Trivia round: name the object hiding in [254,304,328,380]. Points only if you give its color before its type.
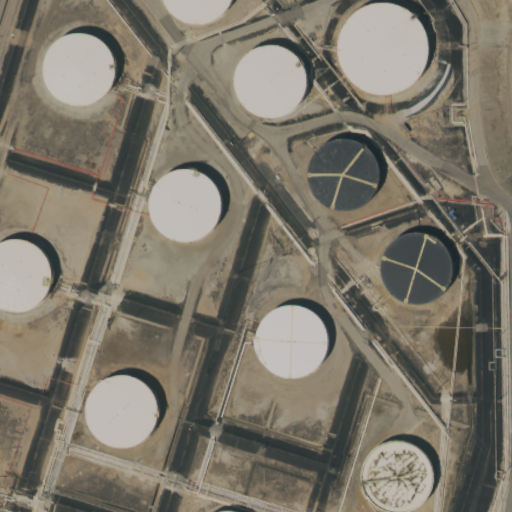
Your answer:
white storage tank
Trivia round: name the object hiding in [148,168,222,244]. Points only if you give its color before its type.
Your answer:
white storage tank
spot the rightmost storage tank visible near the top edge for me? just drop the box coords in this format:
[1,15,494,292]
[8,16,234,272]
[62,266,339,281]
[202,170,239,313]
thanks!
[336,3,429,97]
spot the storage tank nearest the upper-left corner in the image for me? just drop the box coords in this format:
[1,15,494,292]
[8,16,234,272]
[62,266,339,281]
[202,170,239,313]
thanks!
[42,32,117,108]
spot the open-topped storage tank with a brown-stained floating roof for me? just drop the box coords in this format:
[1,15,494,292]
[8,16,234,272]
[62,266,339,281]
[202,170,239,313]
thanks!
[360,440,434,512]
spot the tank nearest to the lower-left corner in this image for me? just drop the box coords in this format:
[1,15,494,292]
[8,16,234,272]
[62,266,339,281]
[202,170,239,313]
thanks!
[85,374,159,448]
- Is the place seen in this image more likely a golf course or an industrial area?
industrial area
